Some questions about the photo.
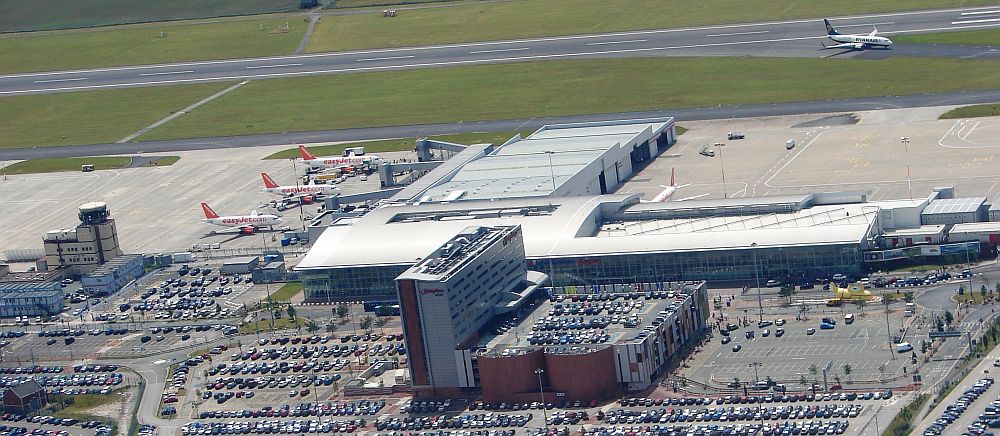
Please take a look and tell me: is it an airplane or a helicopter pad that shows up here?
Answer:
airplane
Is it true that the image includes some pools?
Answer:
No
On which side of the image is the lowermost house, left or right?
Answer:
left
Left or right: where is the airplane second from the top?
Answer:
left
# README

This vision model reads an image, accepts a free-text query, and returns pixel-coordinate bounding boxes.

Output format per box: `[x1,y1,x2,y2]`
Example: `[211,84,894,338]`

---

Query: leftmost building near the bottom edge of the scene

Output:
[0,377,54,414]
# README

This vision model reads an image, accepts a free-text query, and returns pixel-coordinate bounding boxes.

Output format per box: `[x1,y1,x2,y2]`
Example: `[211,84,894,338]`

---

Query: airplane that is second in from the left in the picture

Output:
[260,170,341,202]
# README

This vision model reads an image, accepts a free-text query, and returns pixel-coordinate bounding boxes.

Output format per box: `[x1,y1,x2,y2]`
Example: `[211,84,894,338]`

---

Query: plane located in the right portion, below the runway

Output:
[646,166,703,202]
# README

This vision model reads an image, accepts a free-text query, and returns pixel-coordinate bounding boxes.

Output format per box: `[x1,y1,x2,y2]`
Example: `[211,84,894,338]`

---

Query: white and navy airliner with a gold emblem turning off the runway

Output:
[825,21,893,51]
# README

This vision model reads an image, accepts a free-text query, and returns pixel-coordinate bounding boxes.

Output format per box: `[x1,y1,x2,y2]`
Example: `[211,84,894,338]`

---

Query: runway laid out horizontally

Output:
[0,6,1000,95]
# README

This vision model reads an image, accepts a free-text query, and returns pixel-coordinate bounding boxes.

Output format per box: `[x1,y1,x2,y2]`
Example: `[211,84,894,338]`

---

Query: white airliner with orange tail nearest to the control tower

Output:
[198,200,283,234]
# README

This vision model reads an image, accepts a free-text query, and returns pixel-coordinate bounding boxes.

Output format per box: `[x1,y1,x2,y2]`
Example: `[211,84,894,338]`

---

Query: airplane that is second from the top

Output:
[302,143,385,173]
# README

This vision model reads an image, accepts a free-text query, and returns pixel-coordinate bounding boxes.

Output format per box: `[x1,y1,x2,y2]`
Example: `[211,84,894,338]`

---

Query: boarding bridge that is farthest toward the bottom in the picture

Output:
[320,186,412,214]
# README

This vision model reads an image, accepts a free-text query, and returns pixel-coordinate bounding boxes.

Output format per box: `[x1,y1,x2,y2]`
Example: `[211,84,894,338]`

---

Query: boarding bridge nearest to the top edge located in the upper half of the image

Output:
[412,137,473,166]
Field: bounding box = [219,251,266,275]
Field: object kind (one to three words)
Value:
shed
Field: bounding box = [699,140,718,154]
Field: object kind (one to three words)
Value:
vehicle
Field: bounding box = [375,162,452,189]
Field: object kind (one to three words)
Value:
jet bridge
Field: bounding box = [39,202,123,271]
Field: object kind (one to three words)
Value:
building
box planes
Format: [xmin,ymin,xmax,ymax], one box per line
[198,200,283,234]
[260,170,341,202]
[302,143,385,173]
[825,21,893,51]
[646,166,703,202]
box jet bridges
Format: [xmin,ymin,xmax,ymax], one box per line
[375,162,452,189]
[412,137,473,166]
[320,186,412,214]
